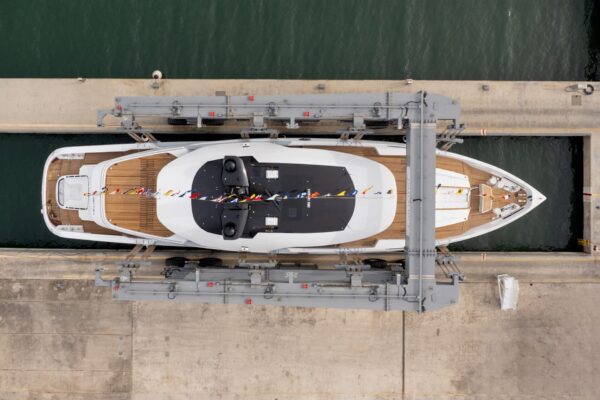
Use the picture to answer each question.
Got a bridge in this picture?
No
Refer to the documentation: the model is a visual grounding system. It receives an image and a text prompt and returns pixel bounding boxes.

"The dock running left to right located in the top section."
[0,78,600,135]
